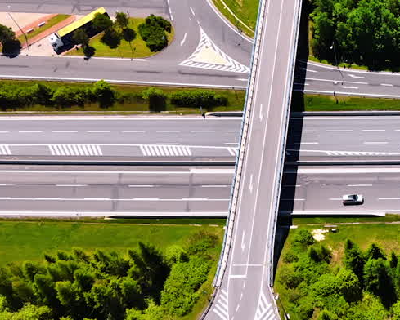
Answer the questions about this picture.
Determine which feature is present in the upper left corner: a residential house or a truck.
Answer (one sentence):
Looking in the upper left corner, you will find a truck.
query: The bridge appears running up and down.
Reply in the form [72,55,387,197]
[212,0,302,286]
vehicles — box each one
[344,195,362,204]
[47,11,109,54]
